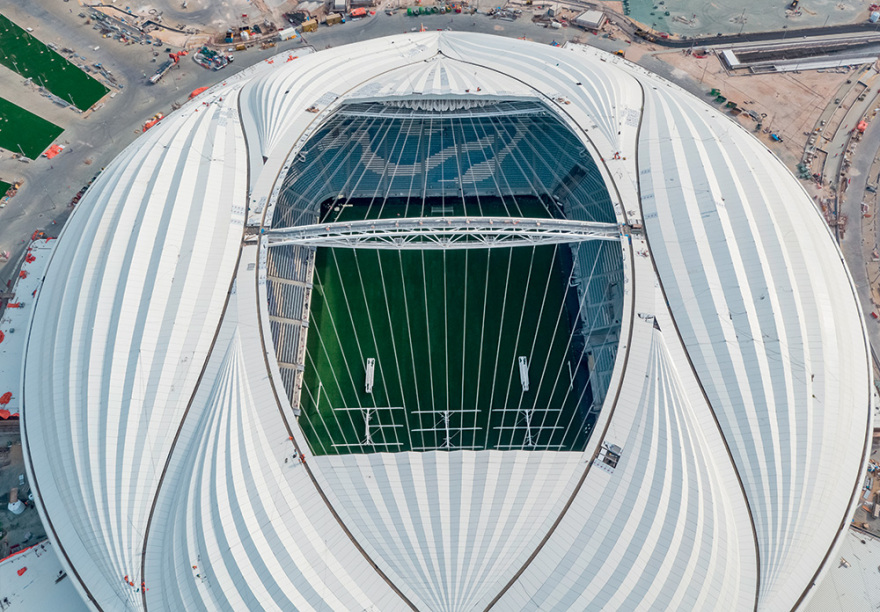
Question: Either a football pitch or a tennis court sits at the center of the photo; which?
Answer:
football pitch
